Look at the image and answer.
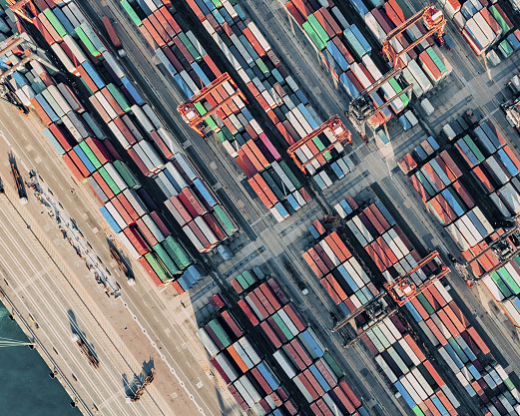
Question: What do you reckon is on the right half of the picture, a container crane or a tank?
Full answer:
There is a container crane on the right half of the picture.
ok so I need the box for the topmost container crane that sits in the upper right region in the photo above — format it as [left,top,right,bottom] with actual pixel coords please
[378,1,451,80]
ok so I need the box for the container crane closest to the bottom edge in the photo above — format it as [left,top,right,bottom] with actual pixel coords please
[324,283,404,353]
